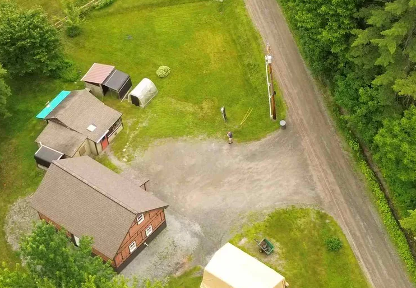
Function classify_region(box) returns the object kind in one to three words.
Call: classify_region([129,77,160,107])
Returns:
shed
